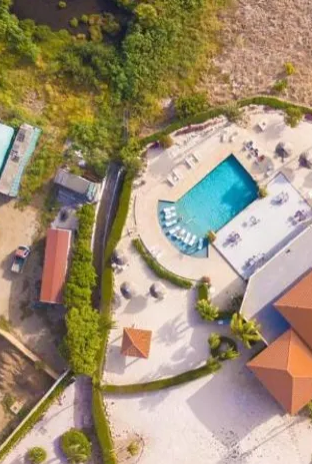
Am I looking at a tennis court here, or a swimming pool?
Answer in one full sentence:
This aerial view contains a swimming pool.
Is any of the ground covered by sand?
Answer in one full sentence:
Yes, there's sand in this view.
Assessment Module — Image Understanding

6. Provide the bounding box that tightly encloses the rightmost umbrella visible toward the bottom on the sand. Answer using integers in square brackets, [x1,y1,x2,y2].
[151,281,169,299]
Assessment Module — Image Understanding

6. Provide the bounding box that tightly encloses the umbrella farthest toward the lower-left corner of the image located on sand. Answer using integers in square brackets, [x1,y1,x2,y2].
[121,281,139,299]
